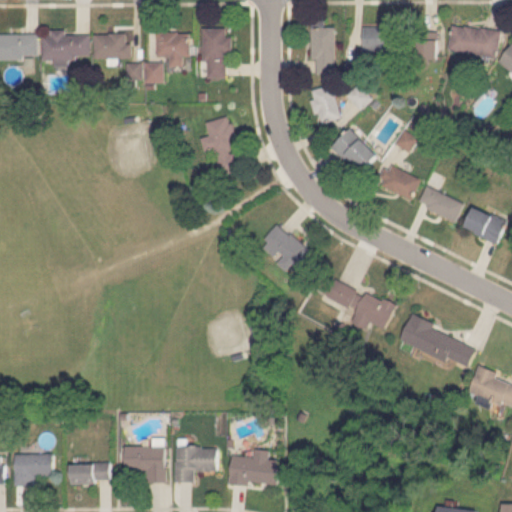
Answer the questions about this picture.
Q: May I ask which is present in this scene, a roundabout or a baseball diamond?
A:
baseball diamond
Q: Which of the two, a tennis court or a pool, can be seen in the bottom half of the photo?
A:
pool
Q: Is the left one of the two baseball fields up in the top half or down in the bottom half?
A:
top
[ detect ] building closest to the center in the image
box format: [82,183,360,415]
[264,226,306,272]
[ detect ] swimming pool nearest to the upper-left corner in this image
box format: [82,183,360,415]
[4,66,24,86]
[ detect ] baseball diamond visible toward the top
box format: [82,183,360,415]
[108,116,156,178]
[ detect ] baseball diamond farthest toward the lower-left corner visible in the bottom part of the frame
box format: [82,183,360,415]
[208,310,251,360]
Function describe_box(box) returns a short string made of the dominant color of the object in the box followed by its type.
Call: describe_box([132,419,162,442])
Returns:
blue swimming pool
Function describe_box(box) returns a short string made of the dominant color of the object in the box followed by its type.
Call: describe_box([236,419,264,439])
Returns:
blue swimming pool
